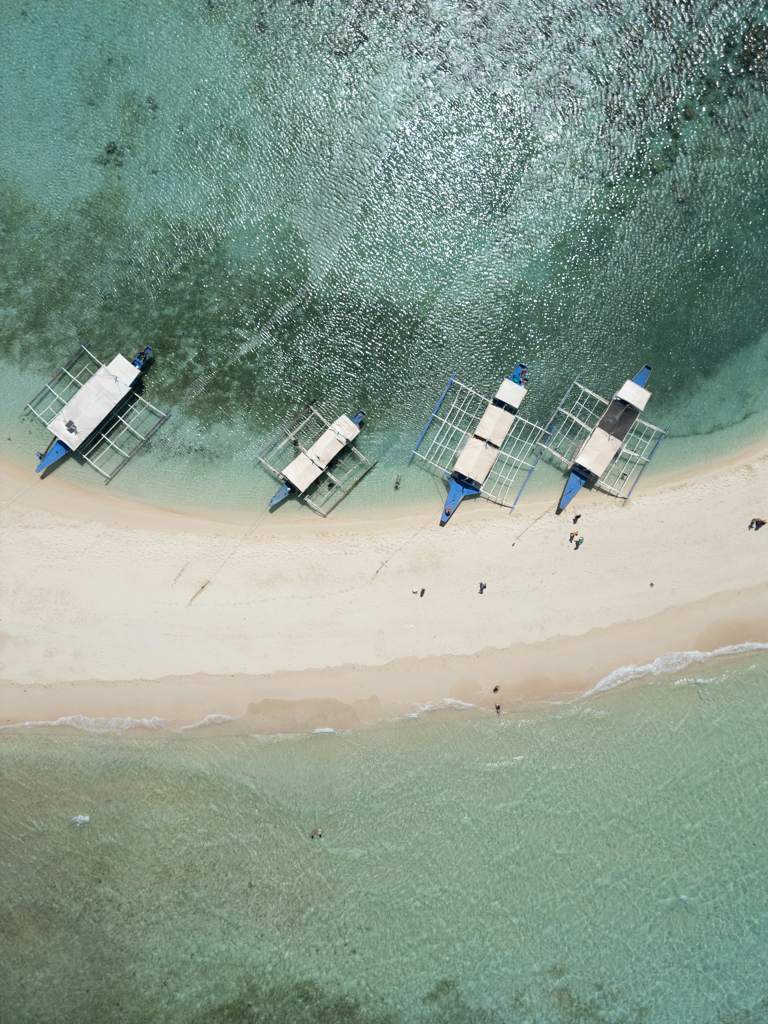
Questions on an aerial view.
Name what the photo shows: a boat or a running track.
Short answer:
boat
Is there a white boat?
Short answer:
Yes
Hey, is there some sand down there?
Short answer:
Yes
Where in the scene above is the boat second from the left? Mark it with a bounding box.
[252,400,378,518]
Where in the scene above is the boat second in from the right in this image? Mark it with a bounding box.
[410,363,556,523]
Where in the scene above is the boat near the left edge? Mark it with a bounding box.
[24,340,170,482]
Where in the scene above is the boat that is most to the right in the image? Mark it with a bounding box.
[533,364,670,511]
